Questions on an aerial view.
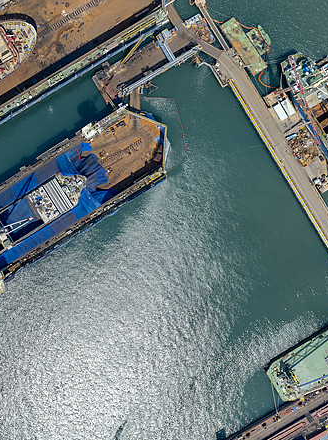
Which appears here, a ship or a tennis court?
ship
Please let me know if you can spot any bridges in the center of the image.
No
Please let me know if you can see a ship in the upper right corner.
Yes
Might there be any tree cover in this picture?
No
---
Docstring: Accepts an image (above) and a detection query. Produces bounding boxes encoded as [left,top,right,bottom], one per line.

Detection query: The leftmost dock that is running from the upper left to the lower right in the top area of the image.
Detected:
[193,0,233,57]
